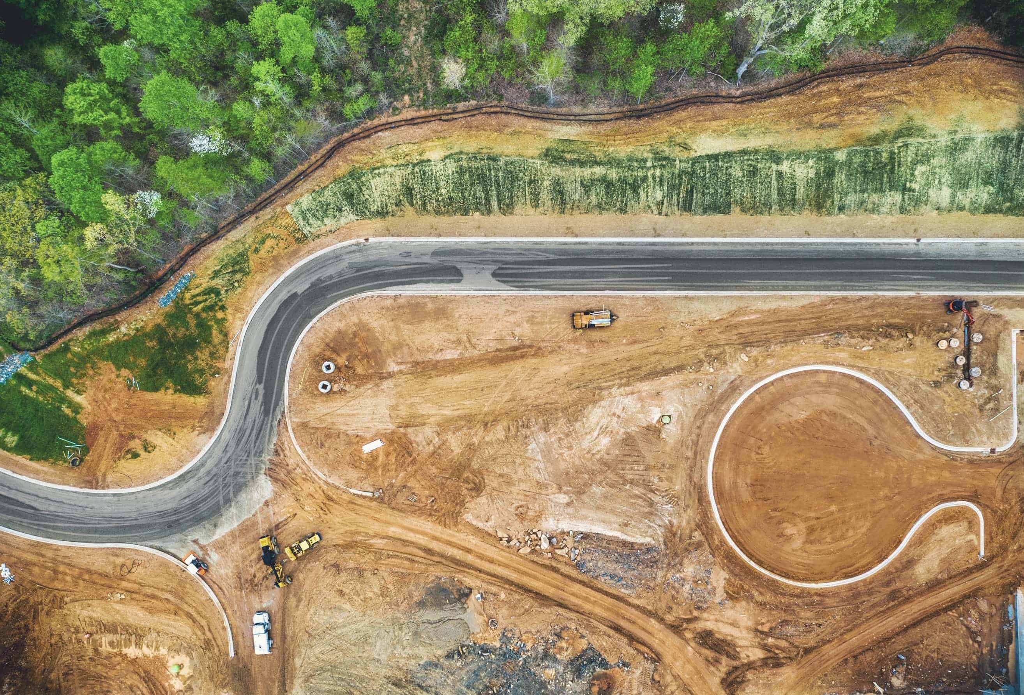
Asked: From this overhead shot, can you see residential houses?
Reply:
No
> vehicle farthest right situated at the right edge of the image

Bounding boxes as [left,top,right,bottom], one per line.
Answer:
[941,300,980,328]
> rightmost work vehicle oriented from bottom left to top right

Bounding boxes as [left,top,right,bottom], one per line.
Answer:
[286,529,326,560]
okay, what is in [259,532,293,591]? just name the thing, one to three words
work vehicle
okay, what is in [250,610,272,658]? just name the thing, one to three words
truck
